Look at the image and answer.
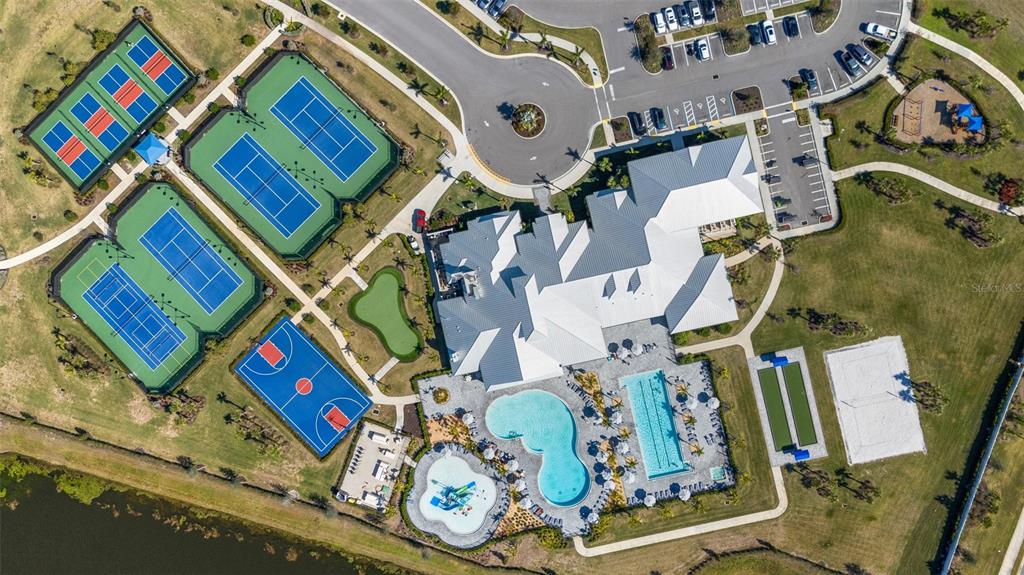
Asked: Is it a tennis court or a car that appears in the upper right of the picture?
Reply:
car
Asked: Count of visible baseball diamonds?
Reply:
0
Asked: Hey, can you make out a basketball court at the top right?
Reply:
No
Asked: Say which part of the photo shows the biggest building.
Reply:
center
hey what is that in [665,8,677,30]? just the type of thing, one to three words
vehicle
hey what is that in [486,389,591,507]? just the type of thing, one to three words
swimming pool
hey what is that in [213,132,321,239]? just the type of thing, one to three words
tennis court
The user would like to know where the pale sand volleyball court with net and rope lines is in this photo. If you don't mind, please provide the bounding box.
[824,336,926,466]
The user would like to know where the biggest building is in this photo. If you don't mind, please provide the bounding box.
[437,135,763,392]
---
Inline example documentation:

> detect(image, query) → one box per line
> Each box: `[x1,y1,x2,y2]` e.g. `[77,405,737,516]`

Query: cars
[800,156,822,168]
[632,112,644,134]
[747,24,760,46]
[775,211,797,224]
[662,48,672,70]
[853,44,872,65]
[802,69,817,91]
[691,1,703,23]
[475,0,493,13]
[654,12,665,34]
[704,0,716,20]
[763,21,776,43]
[772,196,794,208]
[678,5,690,27]
[698,39,710,61]
[665,8,677,30]
[841,52,863,76]
[784,15,796,37]
[764,173,786,185]
[652,107,665,129]
[488,0,507,20]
